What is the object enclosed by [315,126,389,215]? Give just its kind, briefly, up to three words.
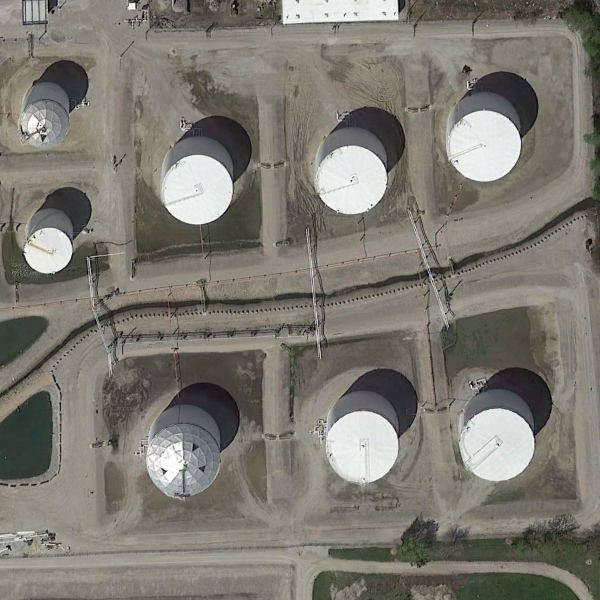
storage tank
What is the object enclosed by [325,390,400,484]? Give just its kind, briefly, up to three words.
storage tank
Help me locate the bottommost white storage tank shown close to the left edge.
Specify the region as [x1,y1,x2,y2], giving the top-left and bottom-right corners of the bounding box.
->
[19,208,73,275]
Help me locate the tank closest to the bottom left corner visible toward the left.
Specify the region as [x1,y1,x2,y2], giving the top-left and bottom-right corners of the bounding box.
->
[144,404,222,500]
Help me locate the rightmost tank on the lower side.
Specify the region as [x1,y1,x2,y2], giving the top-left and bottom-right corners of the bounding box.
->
[459,388,537,483]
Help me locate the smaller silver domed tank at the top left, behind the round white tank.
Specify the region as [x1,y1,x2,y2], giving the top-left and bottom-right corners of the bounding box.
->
[14,81,70,148]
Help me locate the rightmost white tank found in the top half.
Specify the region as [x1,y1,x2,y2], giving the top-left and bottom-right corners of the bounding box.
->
[447,90,524,182]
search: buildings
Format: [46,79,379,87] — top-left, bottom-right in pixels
[21,0,51,26]
[282,0,398,25]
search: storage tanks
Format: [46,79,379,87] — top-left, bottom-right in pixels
[447,90,524,182]
[459,388,537,483]
[315,126,389,215]
[14,81,70,148]
[161,136,234,225]
[325,390,400,484]
[19,208,73,275]
[144,404,222,500]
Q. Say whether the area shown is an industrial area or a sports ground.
industrial area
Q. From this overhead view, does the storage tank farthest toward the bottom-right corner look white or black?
white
